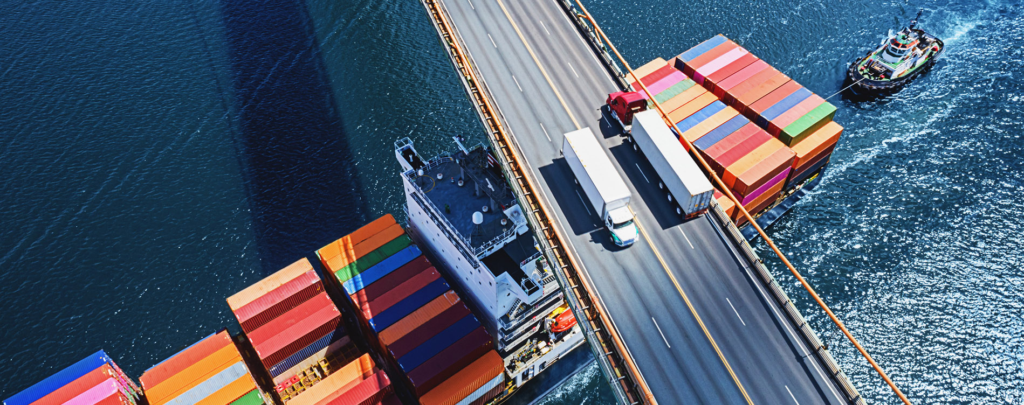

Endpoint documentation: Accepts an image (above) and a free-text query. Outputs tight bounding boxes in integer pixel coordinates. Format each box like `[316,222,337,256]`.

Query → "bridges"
[418,0,915,405]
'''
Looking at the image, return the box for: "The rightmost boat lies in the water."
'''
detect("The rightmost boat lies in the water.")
[843,6,949,94]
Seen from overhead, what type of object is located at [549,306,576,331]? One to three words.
boat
